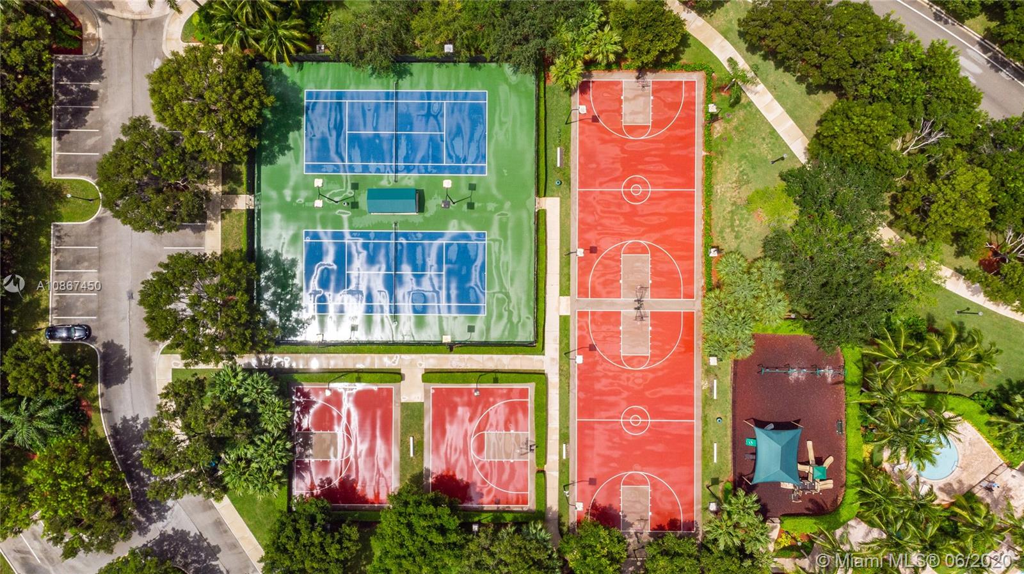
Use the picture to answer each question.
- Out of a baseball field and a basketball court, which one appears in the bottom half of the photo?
basketball court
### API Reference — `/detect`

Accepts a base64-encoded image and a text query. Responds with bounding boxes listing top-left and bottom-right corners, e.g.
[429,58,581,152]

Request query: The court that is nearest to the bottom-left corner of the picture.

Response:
[293,383,401,507]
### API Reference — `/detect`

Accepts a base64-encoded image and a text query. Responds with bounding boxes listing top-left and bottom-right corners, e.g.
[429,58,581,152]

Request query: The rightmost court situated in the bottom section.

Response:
[567,304,702,539]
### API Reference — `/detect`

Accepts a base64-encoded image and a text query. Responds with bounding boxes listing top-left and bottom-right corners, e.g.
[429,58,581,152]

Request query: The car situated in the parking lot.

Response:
[46,324,88,342]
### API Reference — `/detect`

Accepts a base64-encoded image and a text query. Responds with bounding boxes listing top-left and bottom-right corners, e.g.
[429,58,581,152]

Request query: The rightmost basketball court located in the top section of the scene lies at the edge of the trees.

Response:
[568,72,702,305]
